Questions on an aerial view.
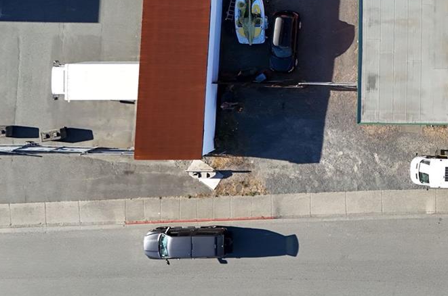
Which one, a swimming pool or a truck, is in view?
truck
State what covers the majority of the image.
paved ground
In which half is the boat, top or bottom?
top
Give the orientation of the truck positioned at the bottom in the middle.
from left to right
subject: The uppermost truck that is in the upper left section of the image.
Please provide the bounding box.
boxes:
[60,60,140,101]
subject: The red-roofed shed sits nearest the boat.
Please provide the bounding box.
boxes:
[129,0,225,161]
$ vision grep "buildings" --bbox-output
[358,0,448,126]
[129,0,225,161]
